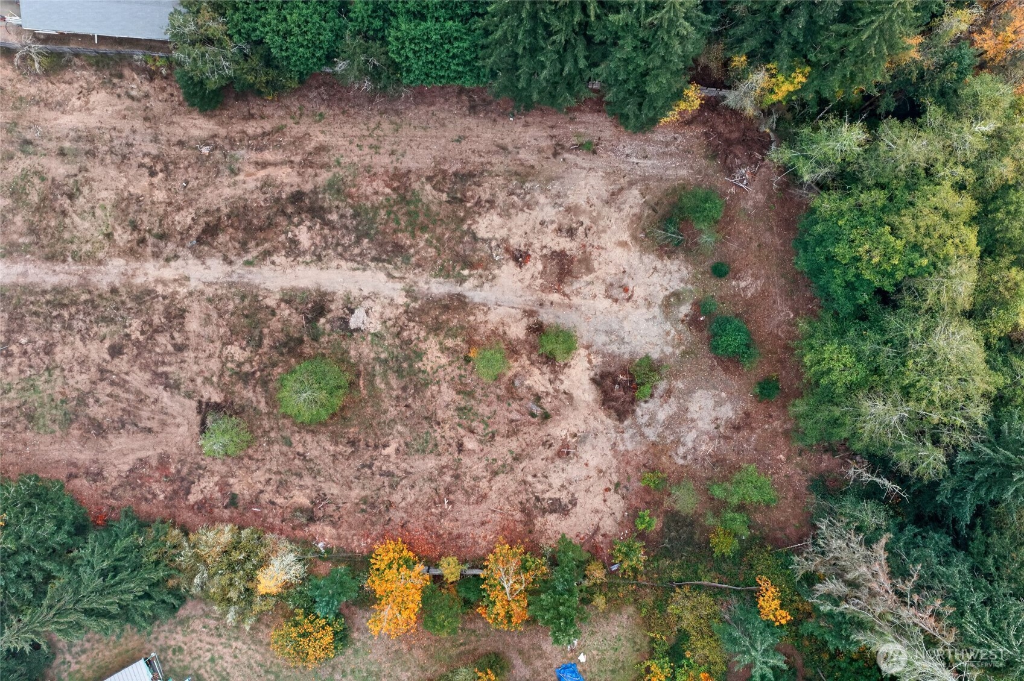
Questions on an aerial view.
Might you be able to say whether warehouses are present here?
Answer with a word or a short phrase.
No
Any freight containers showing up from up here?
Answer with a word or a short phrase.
No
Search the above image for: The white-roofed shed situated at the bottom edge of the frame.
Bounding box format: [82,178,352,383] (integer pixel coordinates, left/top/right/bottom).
[102,641,179,681]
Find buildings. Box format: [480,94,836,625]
[102,641,179,681]
[19,0,193,46]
